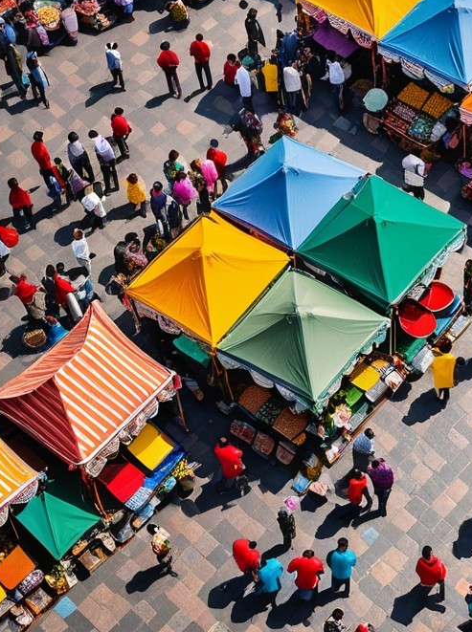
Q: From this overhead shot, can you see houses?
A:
No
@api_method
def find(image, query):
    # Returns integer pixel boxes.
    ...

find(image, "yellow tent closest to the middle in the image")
[124,214,291,403]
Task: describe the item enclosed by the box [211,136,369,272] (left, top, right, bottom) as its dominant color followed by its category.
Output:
blue tent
